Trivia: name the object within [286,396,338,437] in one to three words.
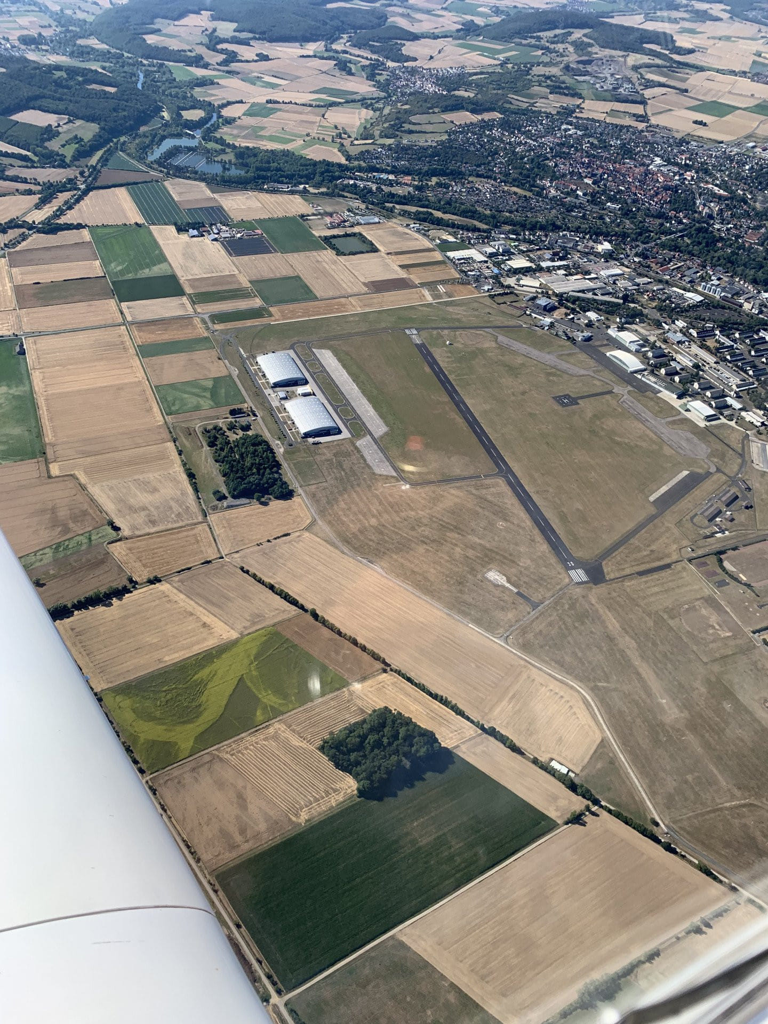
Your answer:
hangar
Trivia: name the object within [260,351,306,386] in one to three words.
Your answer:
hangar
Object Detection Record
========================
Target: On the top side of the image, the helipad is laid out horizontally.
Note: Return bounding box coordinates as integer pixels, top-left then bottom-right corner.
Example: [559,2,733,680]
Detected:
[552,390,615,407]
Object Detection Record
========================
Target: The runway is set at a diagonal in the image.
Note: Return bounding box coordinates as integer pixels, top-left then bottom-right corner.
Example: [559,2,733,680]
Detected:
[406,327,591,586]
